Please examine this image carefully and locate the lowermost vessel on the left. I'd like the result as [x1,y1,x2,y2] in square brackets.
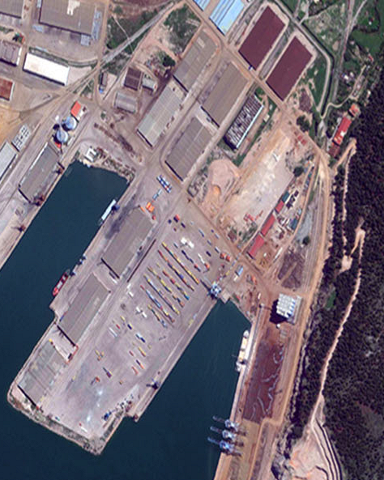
[54,270,70,293]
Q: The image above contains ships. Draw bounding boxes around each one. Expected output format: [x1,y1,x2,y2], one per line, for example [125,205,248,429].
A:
[54,270,70,293]
[102,200,116,220]
[236,330,250,371]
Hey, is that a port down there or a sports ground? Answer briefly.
port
